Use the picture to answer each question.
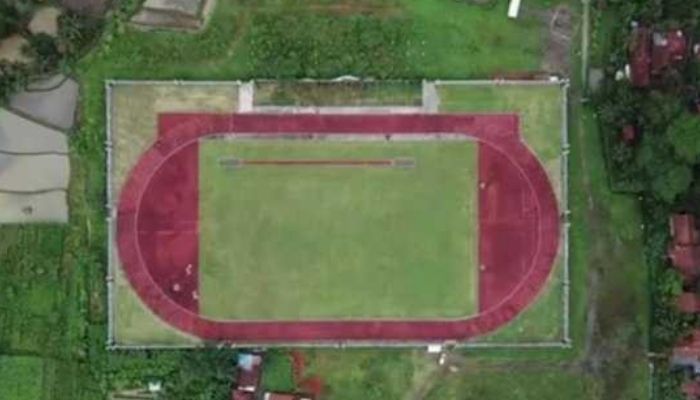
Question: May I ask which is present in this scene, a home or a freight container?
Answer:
home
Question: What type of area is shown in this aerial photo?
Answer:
sports ground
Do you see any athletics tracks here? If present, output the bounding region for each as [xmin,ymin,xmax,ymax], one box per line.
[116,114,560,341]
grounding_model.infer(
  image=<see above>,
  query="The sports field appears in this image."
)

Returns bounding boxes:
[200,138,479,317]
